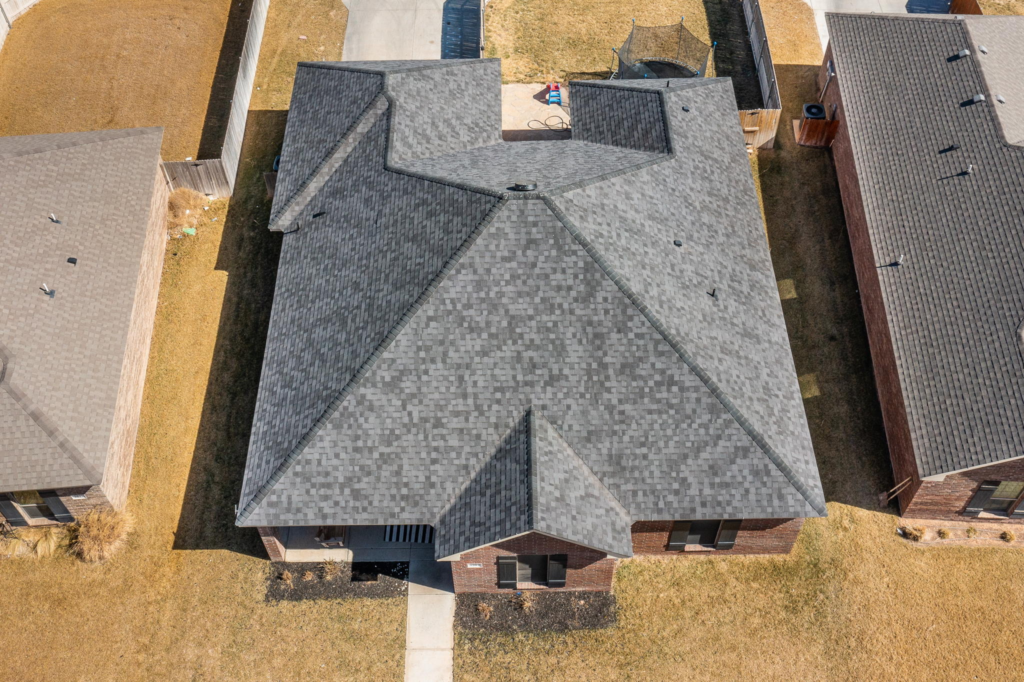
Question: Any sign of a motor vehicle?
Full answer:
No, no motor vehicle can be seen from above.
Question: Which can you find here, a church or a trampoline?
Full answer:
Of the two, only a trampoline appears.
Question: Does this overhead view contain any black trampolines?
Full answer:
No, the photo shows no black trampoline.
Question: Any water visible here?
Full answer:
No, the scene doesn't show any water.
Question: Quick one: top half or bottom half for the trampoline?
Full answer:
The trampoline is in the top half of the image.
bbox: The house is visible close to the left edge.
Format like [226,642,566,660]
[0,126,174,536]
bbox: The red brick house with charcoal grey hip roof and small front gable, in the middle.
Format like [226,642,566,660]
[235,58,828,594]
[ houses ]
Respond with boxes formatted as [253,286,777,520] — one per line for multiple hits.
[235,58,828,594]
[821,13,1024,525]
[0,126,174,536]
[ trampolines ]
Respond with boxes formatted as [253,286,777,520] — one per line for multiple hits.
[609,17,716,80]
